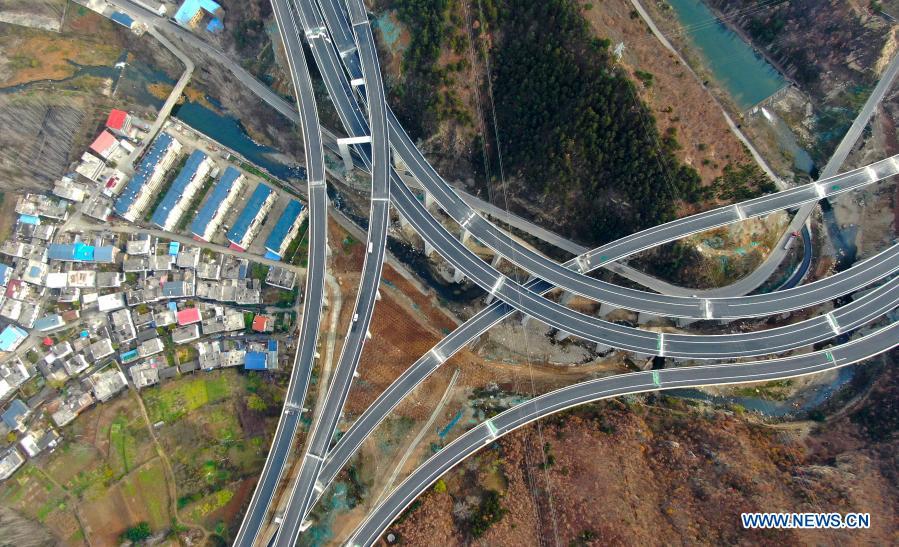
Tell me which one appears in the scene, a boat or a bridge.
bridge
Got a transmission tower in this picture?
Yes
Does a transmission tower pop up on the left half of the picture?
No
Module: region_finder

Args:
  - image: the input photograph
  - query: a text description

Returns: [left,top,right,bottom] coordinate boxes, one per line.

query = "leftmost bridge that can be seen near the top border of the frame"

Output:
[145,18,194,137]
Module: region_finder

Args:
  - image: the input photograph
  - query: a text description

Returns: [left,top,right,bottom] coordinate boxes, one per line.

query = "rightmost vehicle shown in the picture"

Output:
[786,232,799,249]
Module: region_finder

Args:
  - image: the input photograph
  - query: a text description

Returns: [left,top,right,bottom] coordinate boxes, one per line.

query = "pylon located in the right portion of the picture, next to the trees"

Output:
[607,39,636,77]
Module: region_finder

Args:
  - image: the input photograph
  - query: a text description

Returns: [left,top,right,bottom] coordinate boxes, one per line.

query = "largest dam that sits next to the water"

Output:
[744,82,794,122]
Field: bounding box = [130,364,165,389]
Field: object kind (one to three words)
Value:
house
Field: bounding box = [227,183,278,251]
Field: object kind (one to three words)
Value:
building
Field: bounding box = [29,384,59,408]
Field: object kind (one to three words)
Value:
shed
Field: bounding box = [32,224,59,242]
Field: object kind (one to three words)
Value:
house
